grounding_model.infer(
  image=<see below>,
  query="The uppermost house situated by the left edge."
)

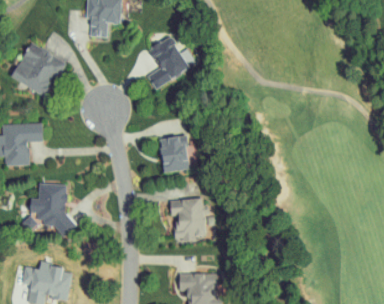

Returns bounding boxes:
[11,42,68,98]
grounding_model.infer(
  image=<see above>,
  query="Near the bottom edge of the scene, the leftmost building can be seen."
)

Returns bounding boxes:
[22,260,72,304]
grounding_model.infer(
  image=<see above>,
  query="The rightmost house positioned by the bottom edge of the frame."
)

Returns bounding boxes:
[180,272,224,304]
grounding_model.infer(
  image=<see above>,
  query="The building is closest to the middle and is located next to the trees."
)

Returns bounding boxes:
[160,136,190,174]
